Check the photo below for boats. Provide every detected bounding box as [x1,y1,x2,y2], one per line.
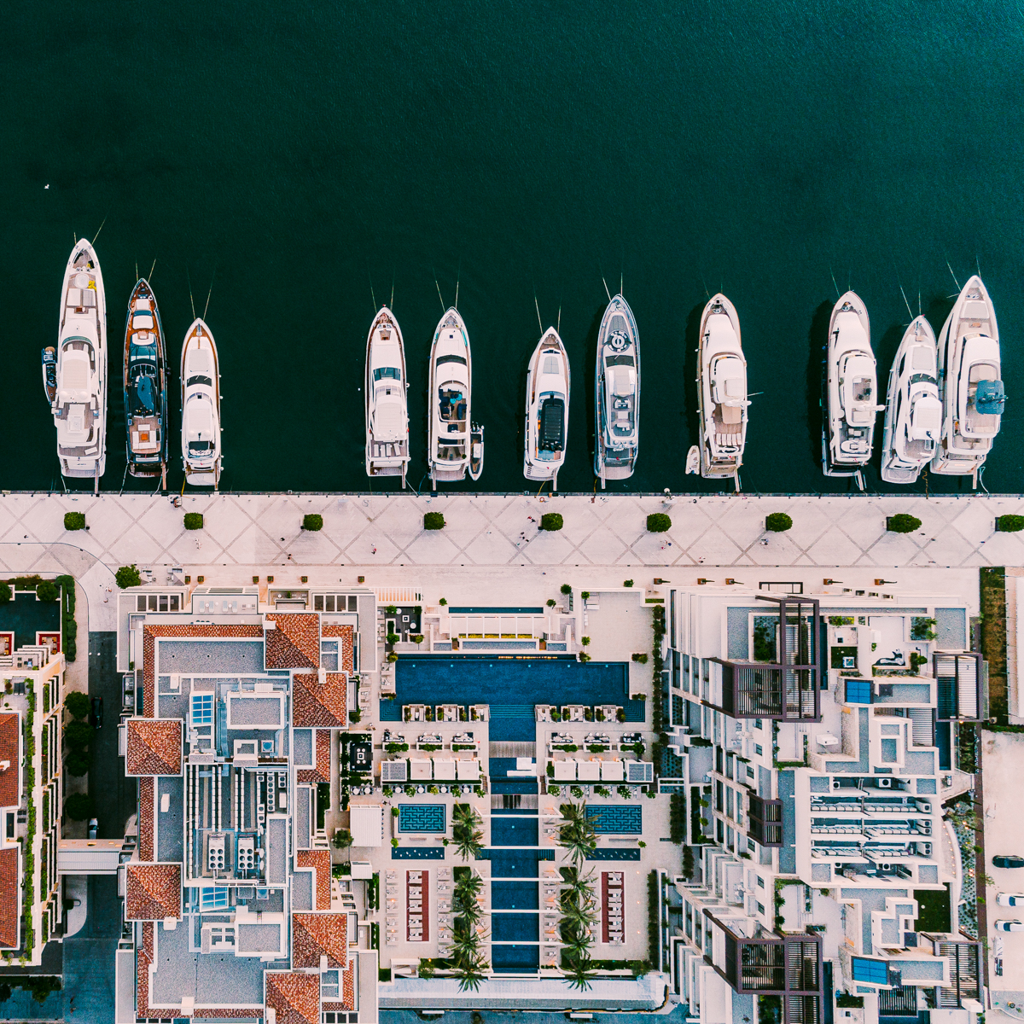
[695,280,763,495]
[470,425,484,481]
[42,346,58,405]
[814,272,889,495]
[591,278,642,494]
[517,299,571,495]
[418,280,472,495]
[923,260,1008,494]
[179,269,224,495]
[119,263,171,495]
[365,275,418,495]
[878,287,943,496]
[685,445,700,475]
[51,216,108,495]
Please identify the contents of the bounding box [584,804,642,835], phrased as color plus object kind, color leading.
blue swimming pool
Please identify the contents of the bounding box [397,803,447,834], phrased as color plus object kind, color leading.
blue swimming pool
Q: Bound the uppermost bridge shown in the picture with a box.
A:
[488,741,537,758]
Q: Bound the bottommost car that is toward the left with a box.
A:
[86,819,100,841]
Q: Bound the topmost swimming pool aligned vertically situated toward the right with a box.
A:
[811,616,828,689]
